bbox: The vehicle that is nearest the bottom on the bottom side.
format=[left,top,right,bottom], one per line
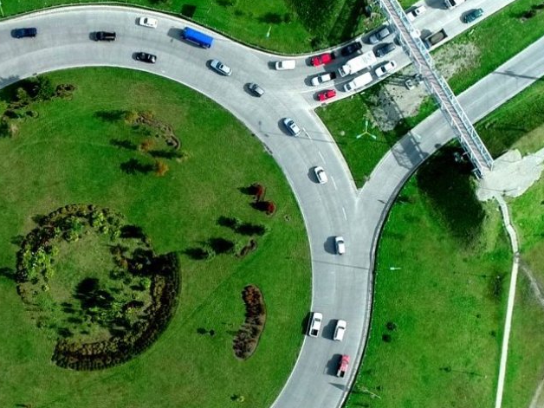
[337,353,350,377]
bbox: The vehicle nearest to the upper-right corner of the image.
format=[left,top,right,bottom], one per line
[461,6,485,25]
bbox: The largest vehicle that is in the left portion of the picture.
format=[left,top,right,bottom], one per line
[181,27,216,48]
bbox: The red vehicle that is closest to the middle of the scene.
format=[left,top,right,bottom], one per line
[316,89,338,102]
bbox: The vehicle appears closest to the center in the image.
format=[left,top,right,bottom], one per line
[314,165,328,185]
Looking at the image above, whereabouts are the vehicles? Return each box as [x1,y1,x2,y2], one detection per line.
[284,117,299,136]
[374,61,397,78]
[334,235,344,254]
[316,89,338,102]
[314,165,328,185]
[14,27,38,38]
[181,27,216,48]
[311,53,334,67]
[377,41,397,57]
[341,41,363,57]
[333,319,345,341]
[95,31,116,41]
[461,6,485,25]
[404,4,428,23]
[210,59,232,77]
[275,59,297,71]
[337,353,350,377]
[311,71,334,86]
[337,47,382,79]
[342,69,376,94]
[420,27,453,52]
[138,16,157,28]
[135,53,157,63]
[246,82,264,97]
[368,26,391,44]
[309,311,320,337]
